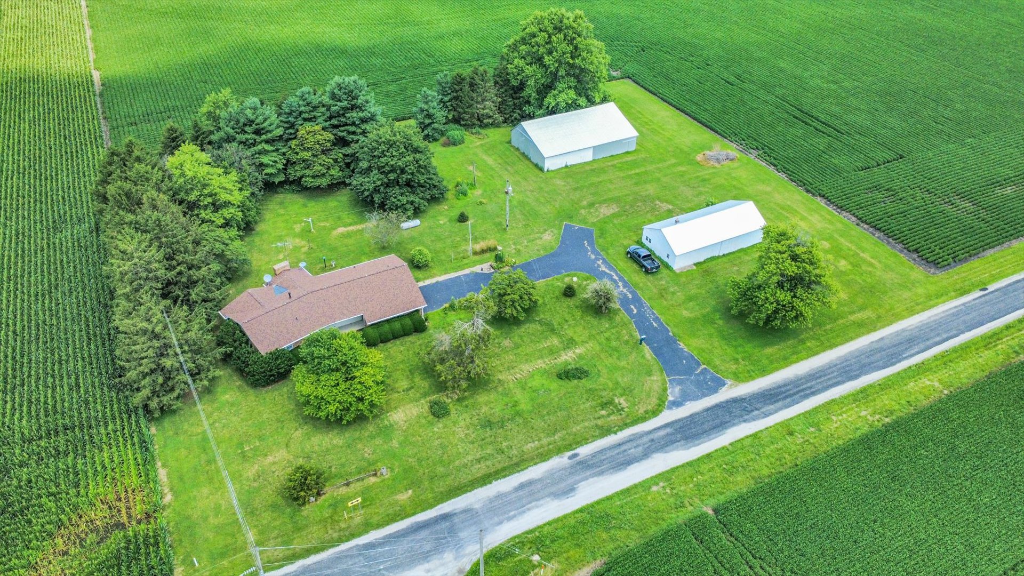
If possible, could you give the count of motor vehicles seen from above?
1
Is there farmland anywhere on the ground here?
Yes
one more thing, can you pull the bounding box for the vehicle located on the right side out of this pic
[627,244,663,272]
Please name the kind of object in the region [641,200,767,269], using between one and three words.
shed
